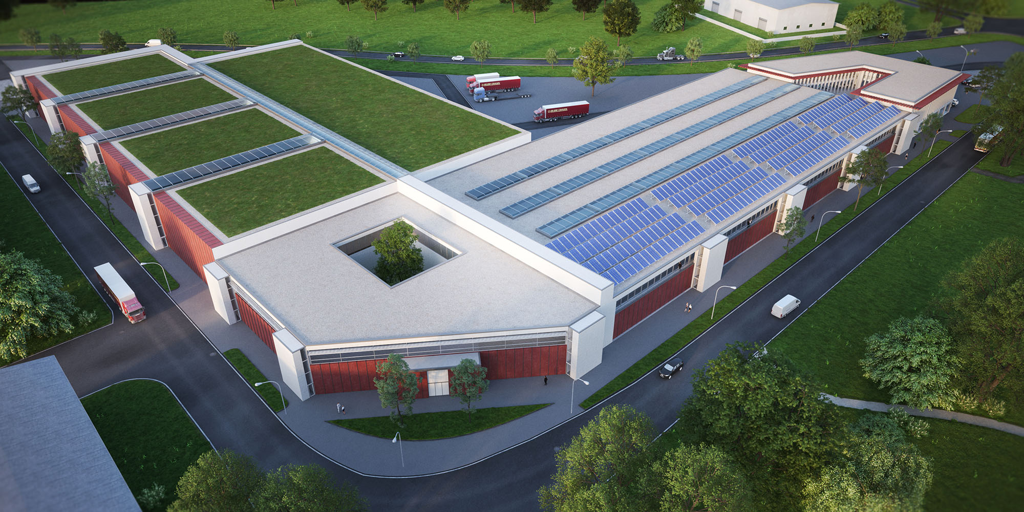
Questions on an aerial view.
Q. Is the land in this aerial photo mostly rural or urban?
urban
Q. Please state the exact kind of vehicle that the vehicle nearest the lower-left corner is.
truck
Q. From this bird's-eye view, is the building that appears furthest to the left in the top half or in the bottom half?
bottom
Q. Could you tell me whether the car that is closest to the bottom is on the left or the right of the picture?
right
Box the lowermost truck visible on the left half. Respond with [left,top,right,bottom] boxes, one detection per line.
[95,263,146,325]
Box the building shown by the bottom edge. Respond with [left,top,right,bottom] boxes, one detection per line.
[0,354,144,512]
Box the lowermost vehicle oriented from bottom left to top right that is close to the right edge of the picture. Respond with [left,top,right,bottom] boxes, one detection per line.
[973,127,999,152]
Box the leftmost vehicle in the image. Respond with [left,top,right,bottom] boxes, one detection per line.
[23,175,40,192]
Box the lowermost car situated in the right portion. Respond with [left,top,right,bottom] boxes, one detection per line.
[660,357,685,379]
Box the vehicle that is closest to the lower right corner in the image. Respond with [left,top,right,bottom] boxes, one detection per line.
[774,296,800,318]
